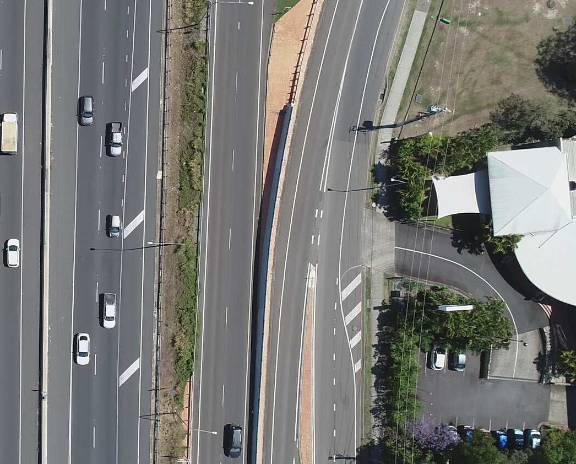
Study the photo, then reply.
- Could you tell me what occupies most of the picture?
paved ground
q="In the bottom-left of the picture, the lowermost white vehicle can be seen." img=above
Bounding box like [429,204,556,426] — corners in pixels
[76,333,92,365]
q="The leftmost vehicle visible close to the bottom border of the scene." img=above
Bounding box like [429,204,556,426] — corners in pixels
[229,425,245,458]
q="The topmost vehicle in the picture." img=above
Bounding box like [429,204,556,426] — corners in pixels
[82,94,96,125]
